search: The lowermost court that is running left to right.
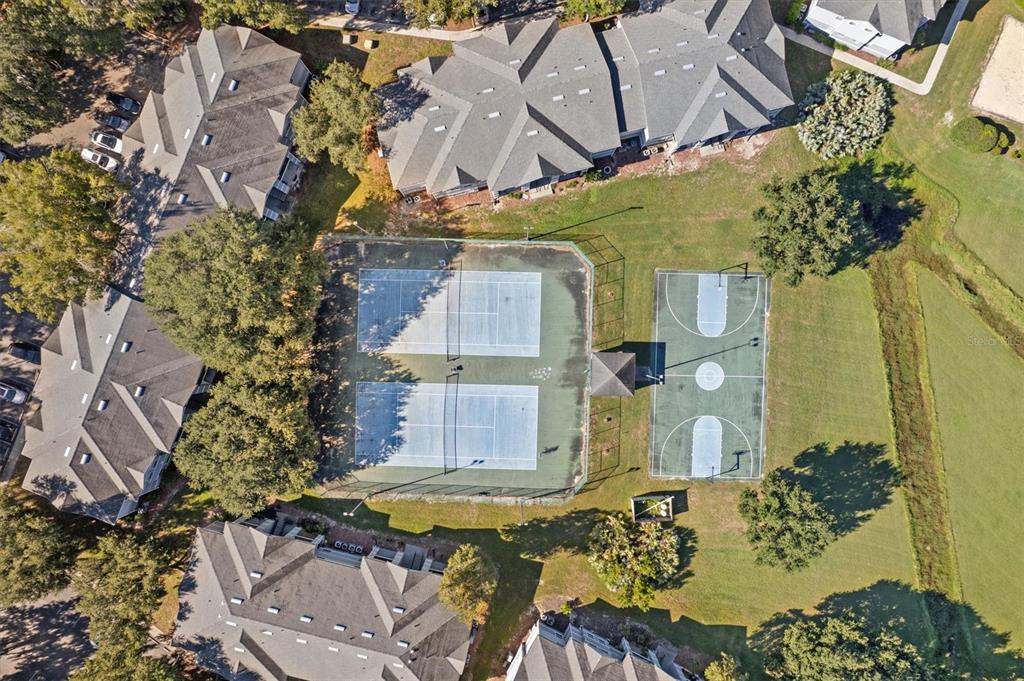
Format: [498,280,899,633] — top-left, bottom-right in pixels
[355,382,539,470]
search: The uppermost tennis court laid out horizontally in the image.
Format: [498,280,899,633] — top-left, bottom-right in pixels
[357,268,542,357]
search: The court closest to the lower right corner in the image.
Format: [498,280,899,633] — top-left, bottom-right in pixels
[650,270,771,481]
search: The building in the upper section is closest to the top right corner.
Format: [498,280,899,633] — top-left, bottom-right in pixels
[801,0,942,59]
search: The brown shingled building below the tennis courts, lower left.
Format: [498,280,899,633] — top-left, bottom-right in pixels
[167,509,475,681]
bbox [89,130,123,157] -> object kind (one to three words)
car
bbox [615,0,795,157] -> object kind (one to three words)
building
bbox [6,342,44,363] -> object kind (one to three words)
car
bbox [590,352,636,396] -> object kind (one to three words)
building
